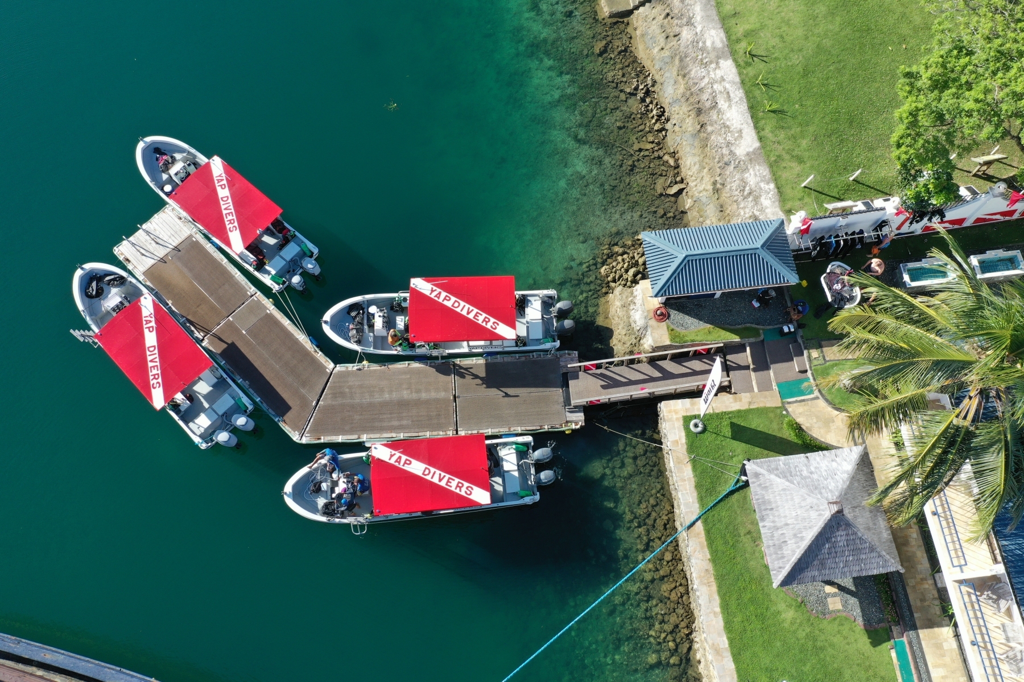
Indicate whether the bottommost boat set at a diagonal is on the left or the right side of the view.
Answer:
left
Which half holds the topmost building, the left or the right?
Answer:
right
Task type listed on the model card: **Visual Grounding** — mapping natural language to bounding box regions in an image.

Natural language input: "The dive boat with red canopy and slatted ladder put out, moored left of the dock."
[70,264,268,462]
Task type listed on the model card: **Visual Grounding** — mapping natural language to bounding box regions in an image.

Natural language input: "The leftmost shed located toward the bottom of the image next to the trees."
[744,443,903,590]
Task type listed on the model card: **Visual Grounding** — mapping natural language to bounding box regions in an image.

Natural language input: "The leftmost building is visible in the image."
[638,216,802,306]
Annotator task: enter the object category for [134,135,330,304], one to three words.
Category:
boat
